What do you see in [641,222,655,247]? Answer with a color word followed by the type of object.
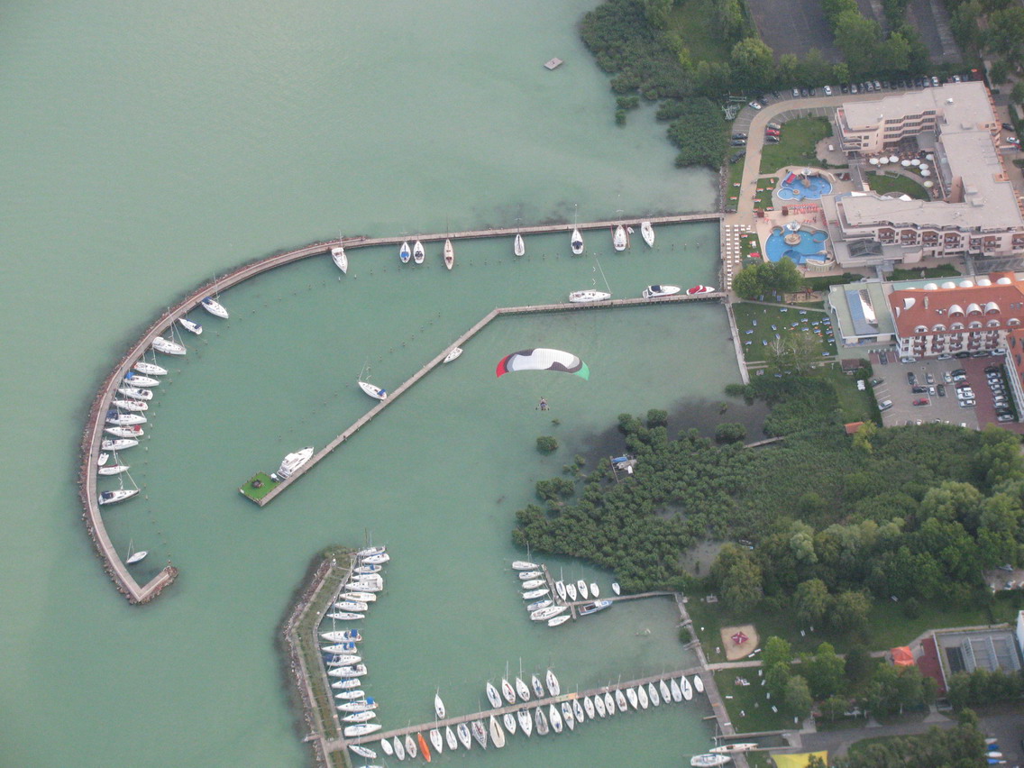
white boat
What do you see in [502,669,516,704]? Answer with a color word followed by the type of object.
white boat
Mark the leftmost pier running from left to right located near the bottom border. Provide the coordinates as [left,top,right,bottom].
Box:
[334,665,702,750]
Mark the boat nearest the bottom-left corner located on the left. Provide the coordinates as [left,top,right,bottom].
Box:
[127,544,149,563]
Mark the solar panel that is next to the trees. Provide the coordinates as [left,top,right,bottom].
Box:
[946,646,968,674]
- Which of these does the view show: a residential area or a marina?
marina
